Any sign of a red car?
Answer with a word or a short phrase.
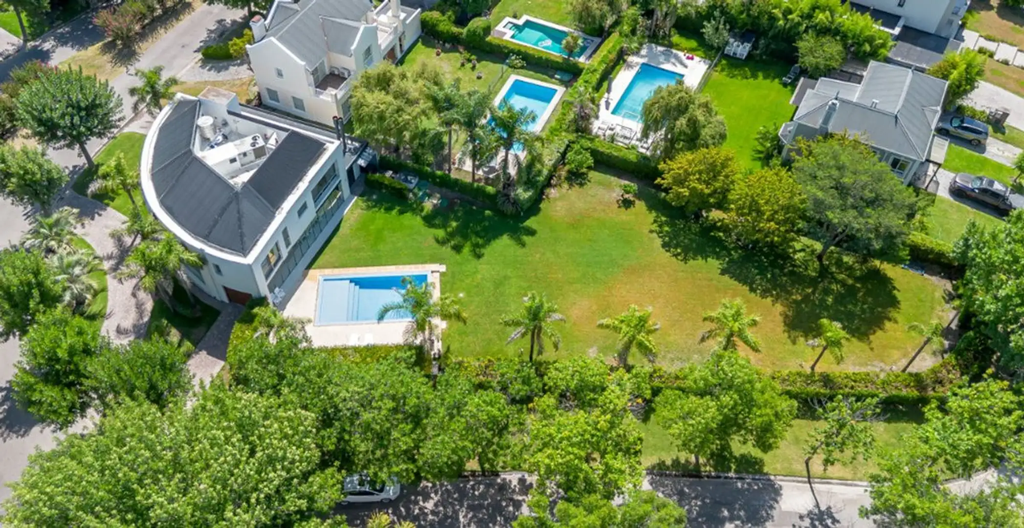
No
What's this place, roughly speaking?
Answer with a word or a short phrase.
residential area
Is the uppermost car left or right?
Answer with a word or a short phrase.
right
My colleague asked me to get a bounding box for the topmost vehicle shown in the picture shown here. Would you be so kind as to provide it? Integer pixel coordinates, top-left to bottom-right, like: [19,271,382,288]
[936,115,993,147]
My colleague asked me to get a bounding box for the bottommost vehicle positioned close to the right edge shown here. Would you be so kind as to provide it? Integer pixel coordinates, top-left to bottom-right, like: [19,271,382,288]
[953,175,1022,211]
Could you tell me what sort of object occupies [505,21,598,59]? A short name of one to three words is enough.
swimming pool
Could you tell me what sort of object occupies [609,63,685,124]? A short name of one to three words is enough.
swimming pool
